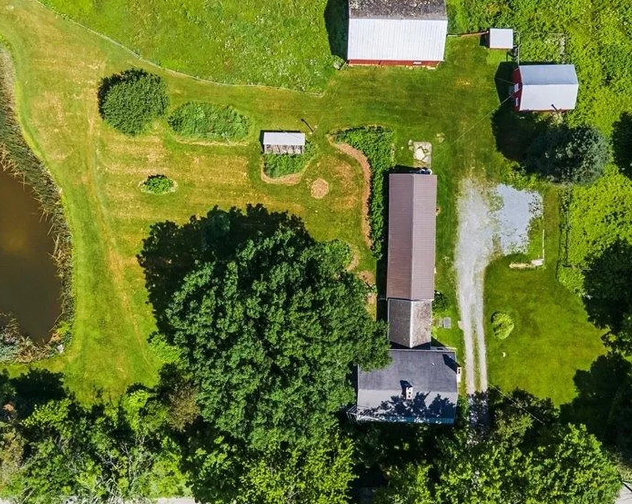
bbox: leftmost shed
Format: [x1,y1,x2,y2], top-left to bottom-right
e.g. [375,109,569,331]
[263,132,305,153]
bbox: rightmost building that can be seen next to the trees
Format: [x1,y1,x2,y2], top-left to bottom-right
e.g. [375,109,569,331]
[504,64,580,114]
